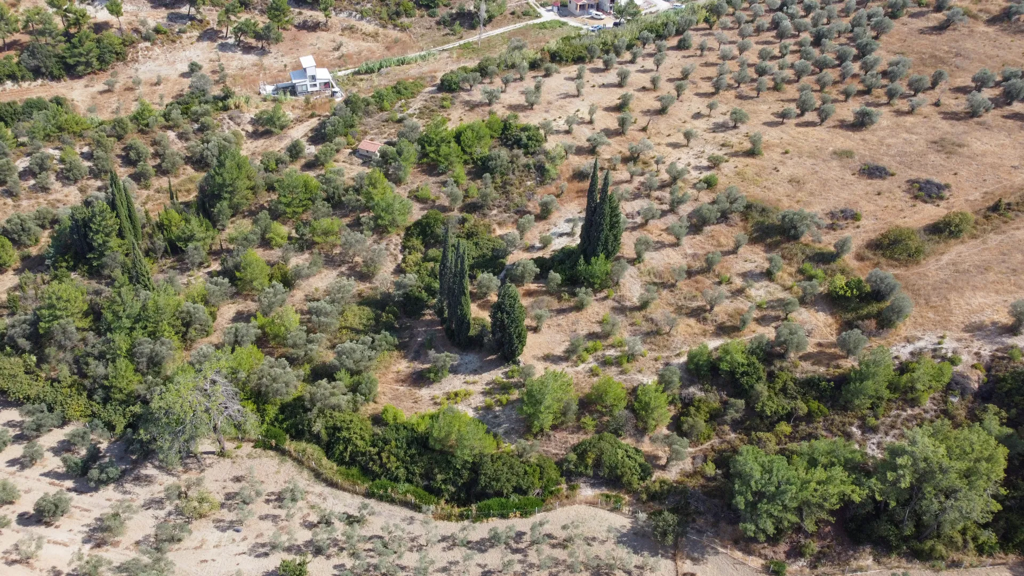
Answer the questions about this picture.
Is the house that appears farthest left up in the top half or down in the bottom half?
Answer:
top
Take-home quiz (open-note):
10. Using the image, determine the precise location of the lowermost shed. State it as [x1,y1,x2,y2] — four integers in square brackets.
[355,138,386,159]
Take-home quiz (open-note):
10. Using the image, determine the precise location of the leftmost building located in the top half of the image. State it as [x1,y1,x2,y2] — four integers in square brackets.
[286,57,331,94]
